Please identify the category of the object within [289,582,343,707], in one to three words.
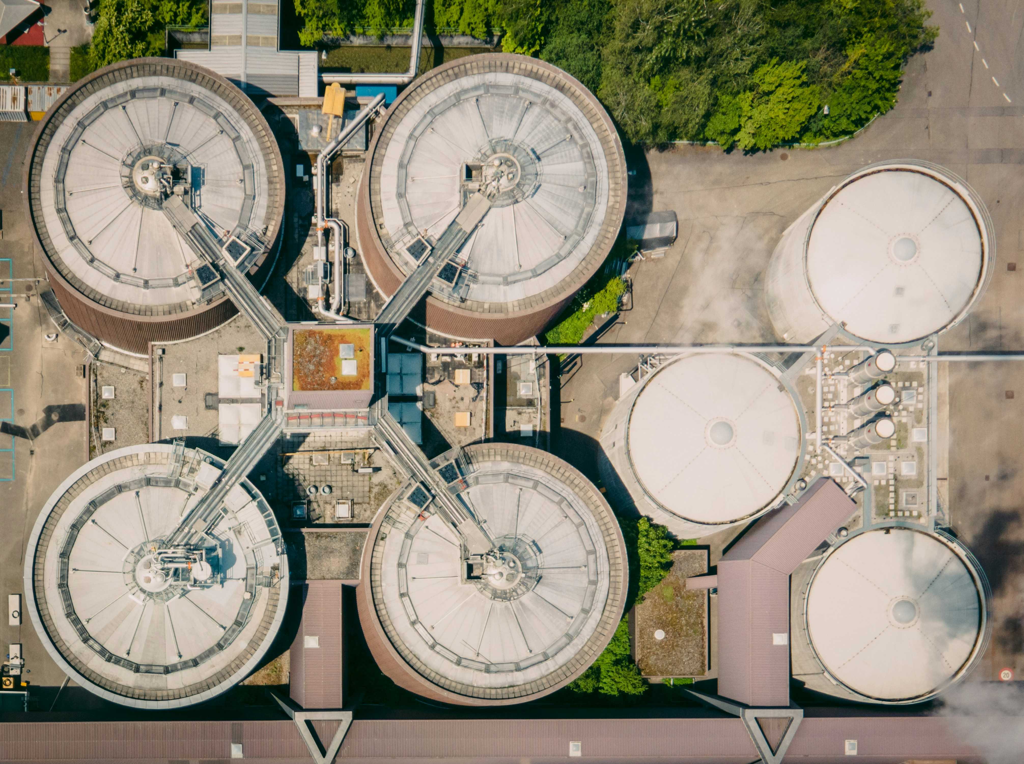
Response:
building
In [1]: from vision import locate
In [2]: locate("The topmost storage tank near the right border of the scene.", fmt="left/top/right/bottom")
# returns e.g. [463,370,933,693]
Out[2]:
[766,155,999,353]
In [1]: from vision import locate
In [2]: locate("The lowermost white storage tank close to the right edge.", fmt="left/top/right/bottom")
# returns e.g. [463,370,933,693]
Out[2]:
[789,517,998,707]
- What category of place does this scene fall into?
industrial area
